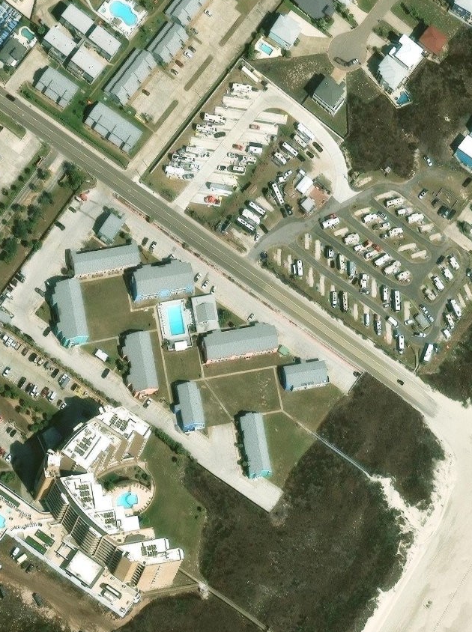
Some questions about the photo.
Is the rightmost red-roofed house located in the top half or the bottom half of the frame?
top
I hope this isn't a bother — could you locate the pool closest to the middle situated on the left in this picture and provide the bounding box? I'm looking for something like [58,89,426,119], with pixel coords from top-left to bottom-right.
[157,300,192,348]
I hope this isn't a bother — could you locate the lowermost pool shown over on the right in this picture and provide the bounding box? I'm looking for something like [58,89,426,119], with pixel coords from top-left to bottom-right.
[391,87,413,108]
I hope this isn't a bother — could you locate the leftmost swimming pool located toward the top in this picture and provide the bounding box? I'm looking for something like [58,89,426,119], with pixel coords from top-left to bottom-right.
[15,26,37,48]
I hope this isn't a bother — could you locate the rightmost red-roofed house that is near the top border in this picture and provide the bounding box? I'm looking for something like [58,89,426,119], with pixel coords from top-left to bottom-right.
[418,23,449,59]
